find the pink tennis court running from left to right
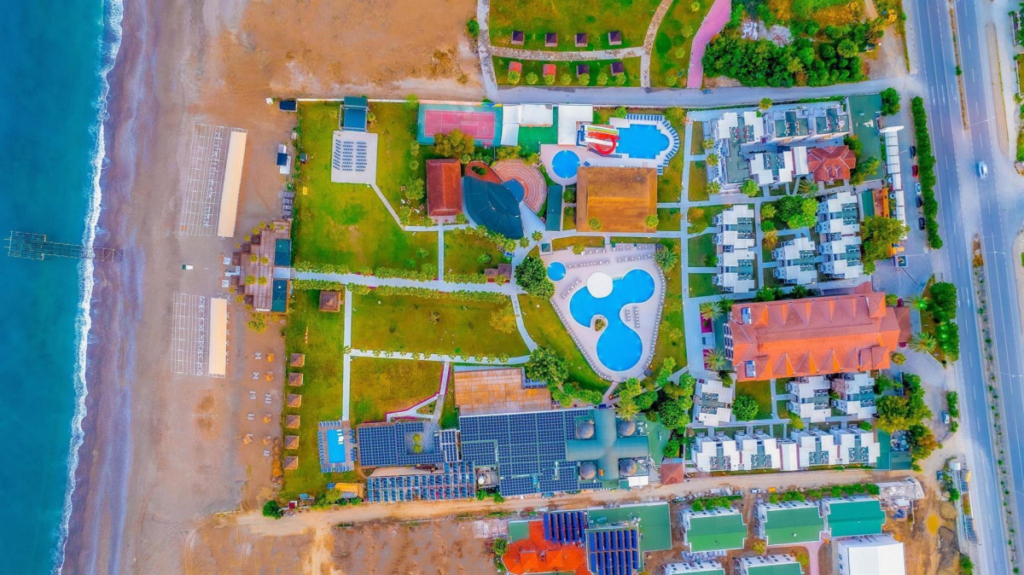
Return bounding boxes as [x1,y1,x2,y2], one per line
[417,104,502,147]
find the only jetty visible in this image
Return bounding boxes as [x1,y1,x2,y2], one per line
[4,231,123,263]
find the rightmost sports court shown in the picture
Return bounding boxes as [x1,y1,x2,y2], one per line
[517,107,558,145]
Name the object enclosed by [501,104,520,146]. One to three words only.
building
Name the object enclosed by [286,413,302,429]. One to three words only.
gazebo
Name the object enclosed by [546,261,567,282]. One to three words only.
swimming pool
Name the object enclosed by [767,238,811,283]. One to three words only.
house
